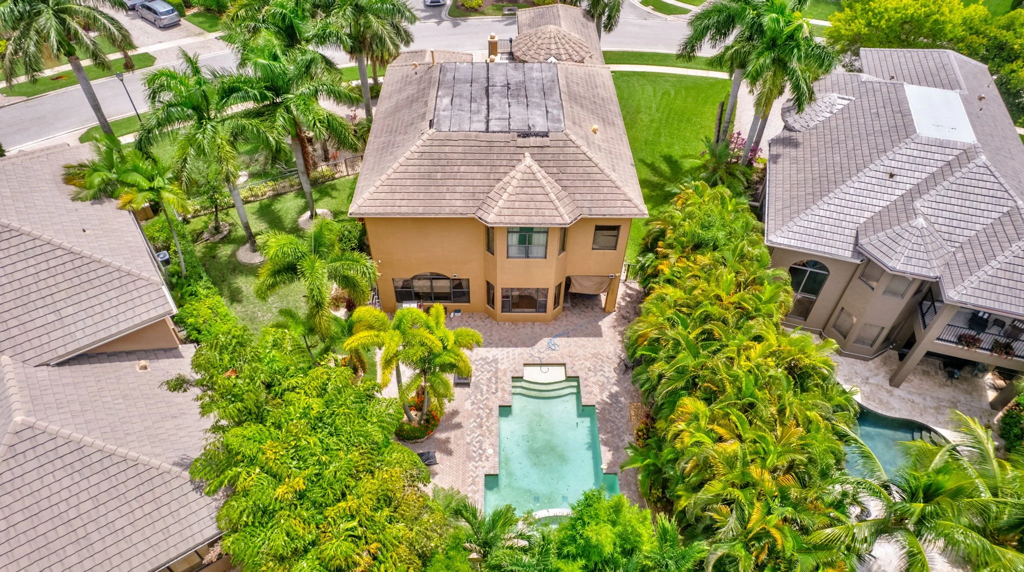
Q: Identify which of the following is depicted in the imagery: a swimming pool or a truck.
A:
swimming pool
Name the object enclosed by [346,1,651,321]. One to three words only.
house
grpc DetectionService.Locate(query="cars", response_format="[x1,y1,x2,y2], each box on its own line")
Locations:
[120,0,140,9]
[133,0,178,24]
